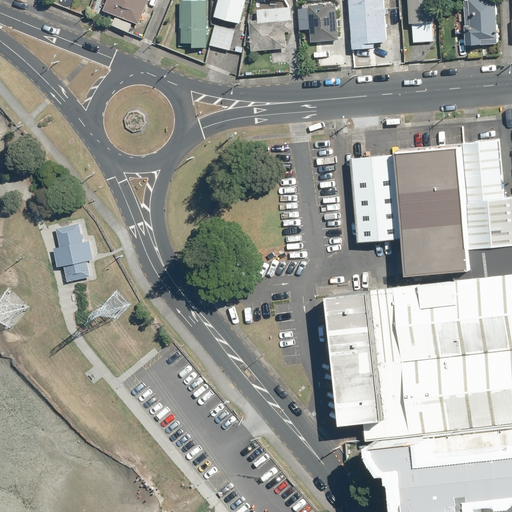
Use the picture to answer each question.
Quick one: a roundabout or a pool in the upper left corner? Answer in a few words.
roundabout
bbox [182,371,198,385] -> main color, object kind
white car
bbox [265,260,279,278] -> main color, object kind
white vehicle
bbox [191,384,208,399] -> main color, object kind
white vehicle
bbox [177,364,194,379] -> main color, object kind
white car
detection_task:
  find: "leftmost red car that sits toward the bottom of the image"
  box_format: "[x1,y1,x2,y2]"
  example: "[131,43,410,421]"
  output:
[160,413,176,427]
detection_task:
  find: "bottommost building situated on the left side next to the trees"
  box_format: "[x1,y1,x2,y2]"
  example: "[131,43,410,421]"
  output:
[54,224,96,282]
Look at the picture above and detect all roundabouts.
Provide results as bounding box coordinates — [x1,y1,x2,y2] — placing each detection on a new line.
[104,84,175,156]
